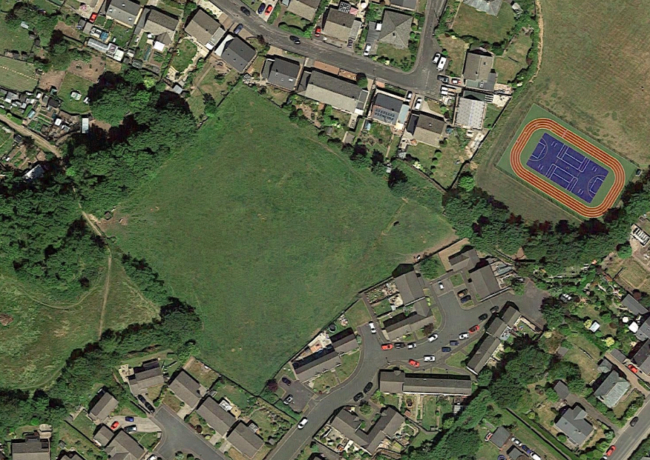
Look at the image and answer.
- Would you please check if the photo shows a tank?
No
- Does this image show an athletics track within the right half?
Yes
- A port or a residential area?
residential area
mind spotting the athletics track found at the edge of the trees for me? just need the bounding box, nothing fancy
[496,104,640,228]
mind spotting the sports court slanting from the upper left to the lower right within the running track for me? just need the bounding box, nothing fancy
[526,133,609,202]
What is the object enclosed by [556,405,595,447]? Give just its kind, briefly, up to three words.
house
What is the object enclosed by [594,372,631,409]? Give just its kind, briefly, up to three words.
house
